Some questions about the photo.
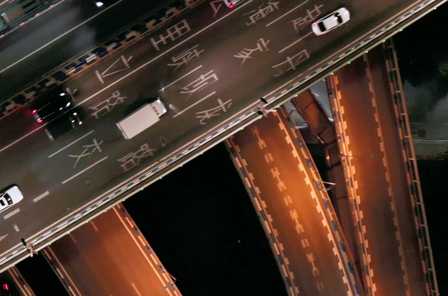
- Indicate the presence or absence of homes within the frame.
No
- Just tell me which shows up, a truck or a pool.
truck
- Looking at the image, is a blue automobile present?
No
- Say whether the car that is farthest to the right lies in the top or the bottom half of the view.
top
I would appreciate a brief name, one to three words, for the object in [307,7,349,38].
car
